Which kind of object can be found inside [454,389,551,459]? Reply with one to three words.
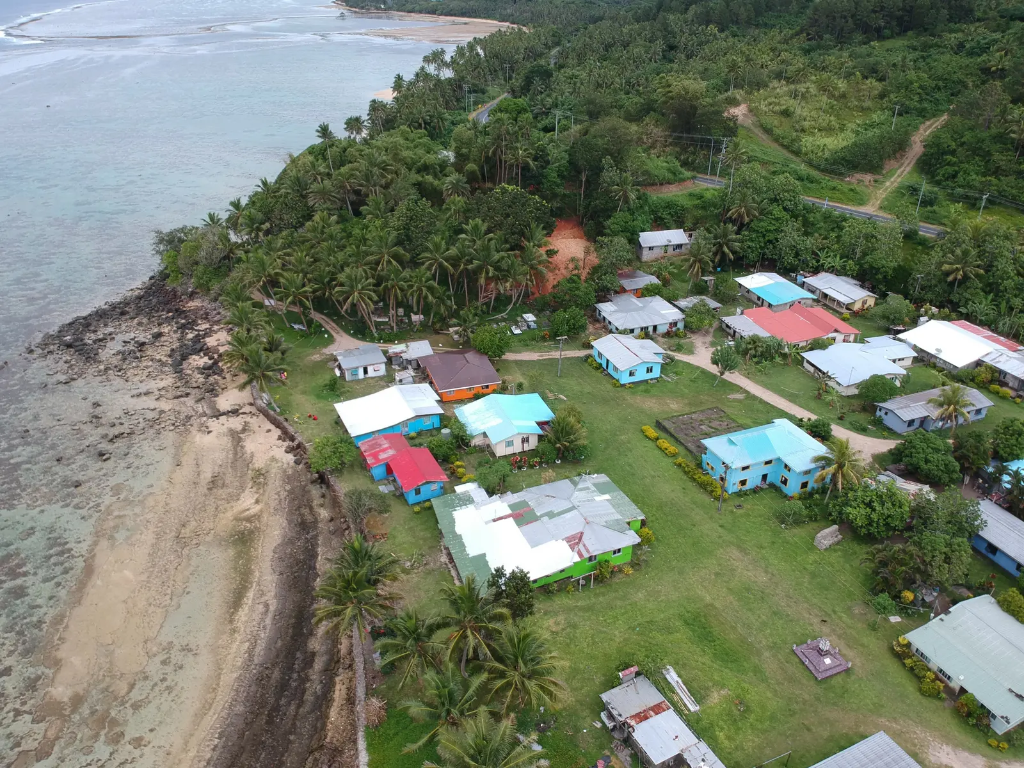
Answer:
house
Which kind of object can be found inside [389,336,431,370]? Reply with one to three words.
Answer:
shed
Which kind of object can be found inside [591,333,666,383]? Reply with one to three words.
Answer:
house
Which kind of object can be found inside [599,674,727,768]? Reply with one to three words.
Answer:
shed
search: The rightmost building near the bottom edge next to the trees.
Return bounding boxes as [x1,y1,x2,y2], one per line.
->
[904,591,1024,737]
